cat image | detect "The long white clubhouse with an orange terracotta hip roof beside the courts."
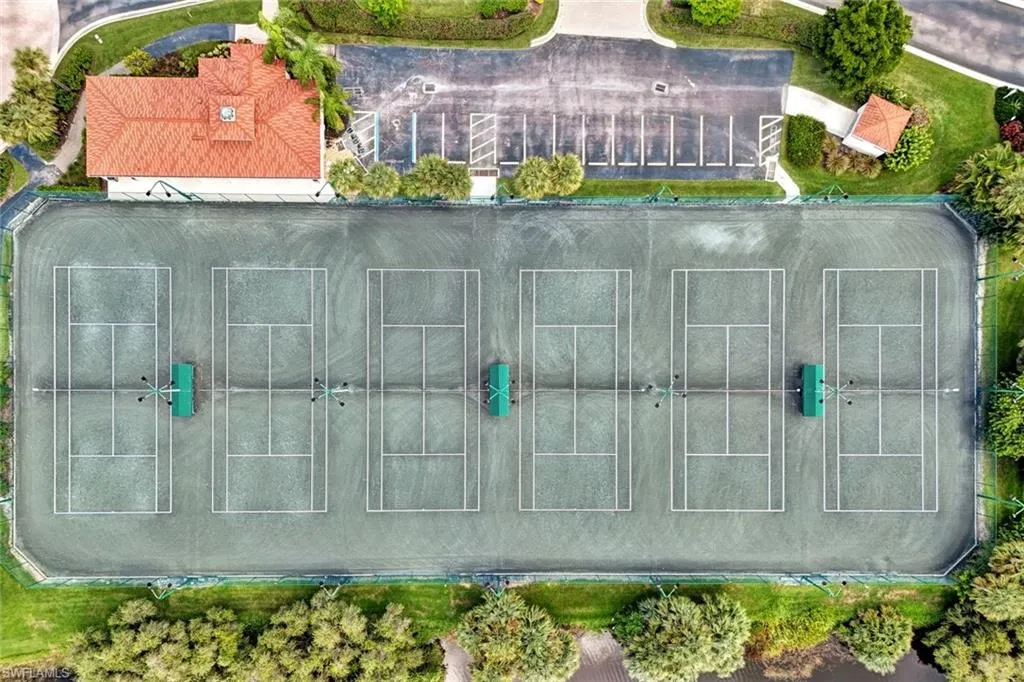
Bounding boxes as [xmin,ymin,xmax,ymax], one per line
[85,42,327,185]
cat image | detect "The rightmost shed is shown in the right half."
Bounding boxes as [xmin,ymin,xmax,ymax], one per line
[843,93,914,158]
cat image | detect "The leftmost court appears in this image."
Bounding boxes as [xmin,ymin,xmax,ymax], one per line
[29,266,172,514]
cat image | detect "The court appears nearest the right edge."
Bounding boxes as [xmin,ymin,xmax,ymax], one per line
[824,269,957,513]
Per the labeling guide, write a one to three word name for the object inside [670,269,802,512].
tennis court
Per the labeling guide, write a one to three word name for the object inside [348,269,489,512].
tennis court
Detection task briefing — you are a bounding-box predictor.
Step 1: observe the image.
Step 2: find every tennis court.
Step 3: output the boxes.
[193,267,345,513]
[824,269,957,513]
[670,269,802,512]
[348,269,489,512]
[29,266,172,514]
[509,269,649,512]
